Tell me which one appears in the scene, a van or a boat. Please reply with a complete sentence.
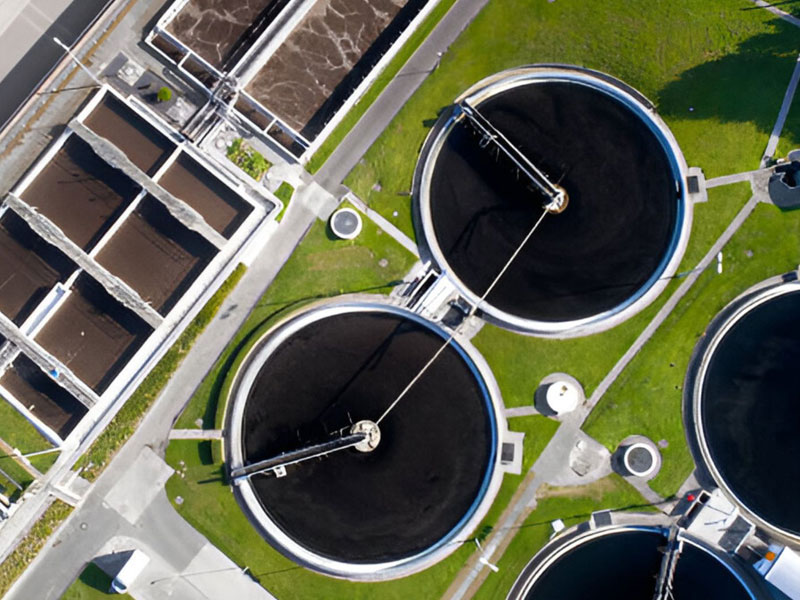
It is a van that can be seen here.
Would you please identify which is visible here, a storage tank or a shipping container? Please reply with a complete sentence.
It is a storage tank that can be seen here.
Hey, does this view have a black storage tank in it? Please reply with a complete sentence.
Yes, there's a black storage tank down there.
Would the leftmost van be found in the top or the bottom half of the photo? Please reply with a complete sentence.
Seen from above, the leftmost van lies in the bottom half of the view.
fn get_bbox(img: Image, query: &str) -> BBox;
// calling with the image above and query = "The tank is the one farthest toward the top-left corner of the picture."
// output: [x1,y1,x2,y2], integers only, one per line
[330,207,362,239]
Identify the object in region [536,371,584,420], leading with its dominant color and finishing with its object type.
white storage tank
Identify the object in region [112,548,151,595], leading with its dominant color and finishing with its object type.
white van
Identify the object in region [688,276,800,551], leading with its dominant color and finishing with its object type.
black storage tank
